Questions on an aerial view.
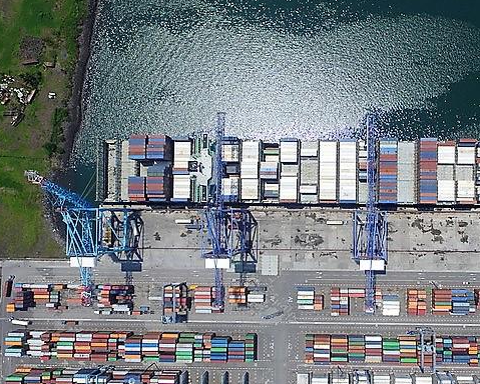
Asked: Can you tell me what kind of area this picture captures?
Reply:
port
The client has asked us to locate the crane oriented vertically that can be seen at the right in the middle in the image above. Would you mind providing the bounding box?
[346,112,388,312]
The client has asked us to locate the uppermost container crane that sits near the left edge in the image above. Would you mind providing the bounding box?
[19,169,138,310]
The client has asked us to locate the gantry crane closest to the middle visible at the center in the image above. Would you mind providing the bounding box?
[203,111,253,311]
